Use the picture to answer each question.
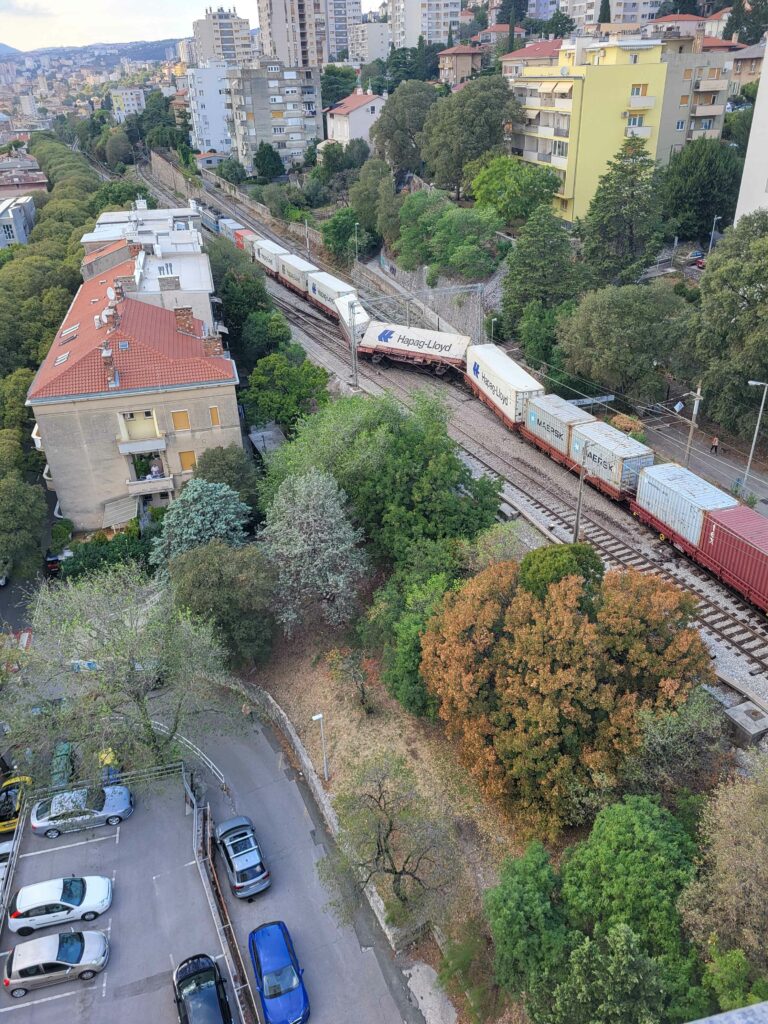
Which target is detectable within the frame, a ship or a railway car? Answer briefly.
railway car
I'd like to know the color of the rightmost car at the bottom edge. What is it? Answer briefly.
blue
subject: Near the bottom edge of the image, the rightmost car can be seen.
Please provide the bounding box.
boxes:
[245,916,311,1024]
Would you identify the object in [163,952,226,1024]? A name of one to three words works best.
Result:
car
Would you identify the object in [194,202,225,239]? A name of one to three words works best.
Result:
rail car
